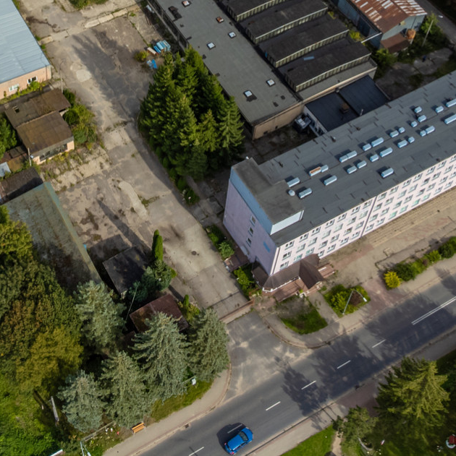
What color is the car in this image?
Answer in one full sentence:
The car looks blue in the image.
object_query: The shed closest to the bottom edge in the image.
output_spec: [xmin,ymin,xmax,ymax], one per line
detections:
[130,293,188,340]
